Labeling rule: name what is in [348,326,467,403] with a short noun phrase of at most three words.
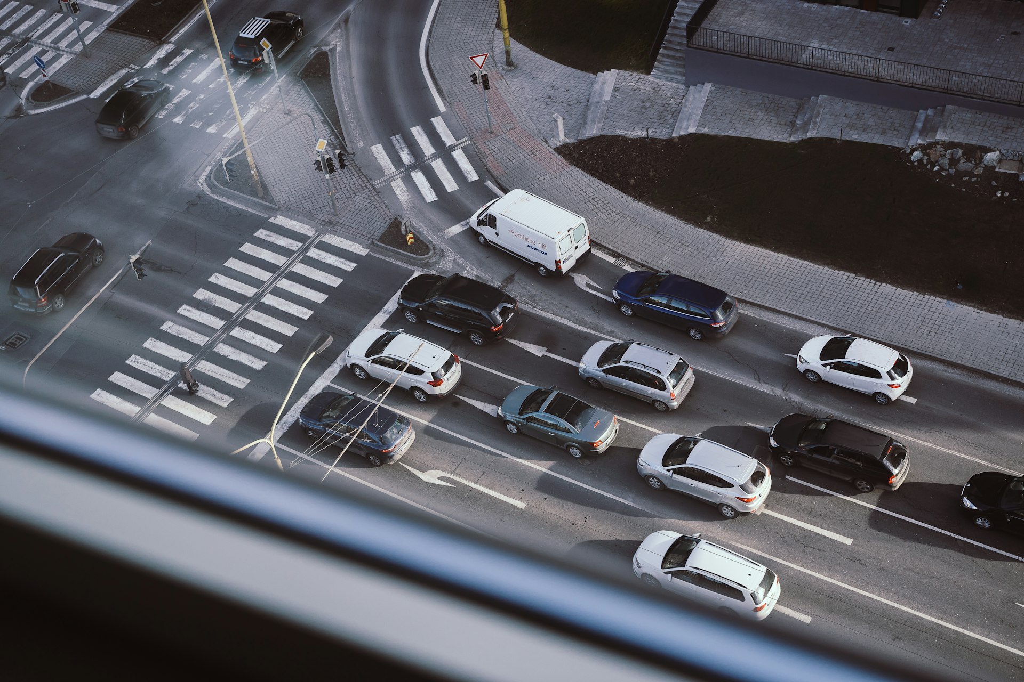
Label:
car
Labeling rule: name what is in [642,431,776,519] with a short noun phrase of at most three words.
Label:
car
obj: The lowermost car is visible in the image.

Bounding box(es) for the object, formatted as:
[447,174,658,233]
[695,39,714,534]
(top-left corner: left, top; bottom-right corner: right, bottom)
[637,530,784,620]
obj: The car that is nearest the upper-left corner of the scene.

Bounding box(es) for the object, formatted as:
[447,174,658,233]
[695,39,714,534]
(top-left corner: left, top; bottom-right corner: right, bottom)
[92,79,168,139]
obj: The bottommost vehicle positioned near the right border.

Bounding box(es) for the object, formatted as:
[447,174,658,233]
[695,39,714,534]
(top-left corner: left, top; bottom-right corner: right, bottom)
[961,470,1024,538]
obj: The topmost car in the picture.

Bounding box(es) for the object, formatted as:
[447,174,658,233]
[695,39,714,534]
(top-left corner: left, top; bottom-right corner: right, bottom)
[222,10,302,77]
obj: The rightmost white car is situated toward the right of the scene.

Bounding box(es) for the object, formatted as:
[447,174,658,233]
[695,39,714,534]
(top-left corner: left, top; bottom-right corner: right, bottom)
[801,330,916,405]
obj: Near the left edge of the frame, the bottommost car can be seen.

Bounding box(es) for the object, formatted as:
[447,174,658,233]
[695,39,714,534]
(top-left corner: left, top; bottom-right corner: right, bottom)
[4,232,101,317]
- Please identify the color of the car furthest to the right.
black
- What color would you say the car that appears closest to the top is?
black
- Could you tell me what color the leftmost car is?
black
